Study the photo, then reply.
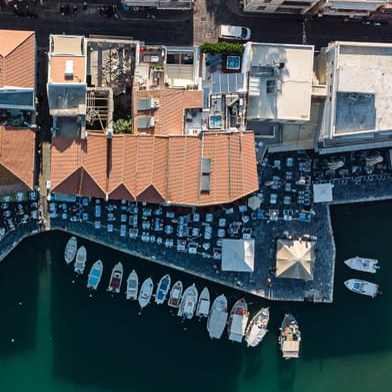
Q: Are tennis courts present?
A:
No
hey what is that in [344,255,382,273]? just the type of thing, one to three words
boat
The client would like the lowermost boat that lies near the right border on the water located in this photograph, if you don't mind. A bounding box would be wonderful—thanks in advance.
[344,279,381,298]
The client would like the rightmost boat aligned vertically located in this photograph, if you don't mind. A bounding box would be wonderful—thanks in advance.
[280,314,301,358]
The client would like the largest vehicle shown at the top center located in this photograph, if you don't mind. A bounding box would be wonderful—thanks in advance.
[219,24,250,40]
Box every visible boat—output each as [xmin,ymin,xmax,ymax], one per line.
[64,235,77,264]
[86,258,101,292]
[126,259,143,302]
[75,242,90,275]
[280,314,301,358]
[247,301,275,348]
[228,294,252,341]
[169,281,182,308]
[109,252,128,294]
[155,273,171,307]
[344,279,381,298]
[138,274,154,308]
[179,280,200,321]
[344,255,382,273]
[197,282,217,319]
[208,289,231,339]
